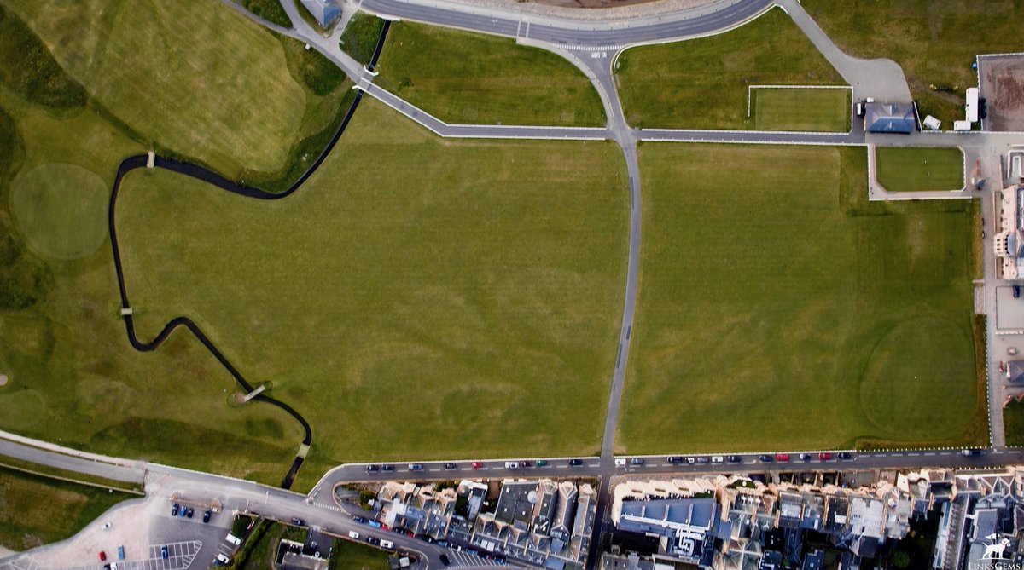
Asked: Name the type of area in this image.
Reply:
golf course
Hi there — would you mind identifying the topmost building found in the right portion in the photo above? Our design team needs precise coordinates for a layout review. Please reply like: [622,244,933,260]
[861,101,916,134]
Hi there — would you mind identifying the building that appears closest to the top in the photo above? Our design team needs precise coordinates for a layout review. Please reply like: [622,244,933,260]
[301,0,345,30]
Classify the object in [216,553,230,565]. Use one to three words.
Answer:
vehicle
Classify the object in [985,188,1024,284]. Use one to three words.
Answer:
building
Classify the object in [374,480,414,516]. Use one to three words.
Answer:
house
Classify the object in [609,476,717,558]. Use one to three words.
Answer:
building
